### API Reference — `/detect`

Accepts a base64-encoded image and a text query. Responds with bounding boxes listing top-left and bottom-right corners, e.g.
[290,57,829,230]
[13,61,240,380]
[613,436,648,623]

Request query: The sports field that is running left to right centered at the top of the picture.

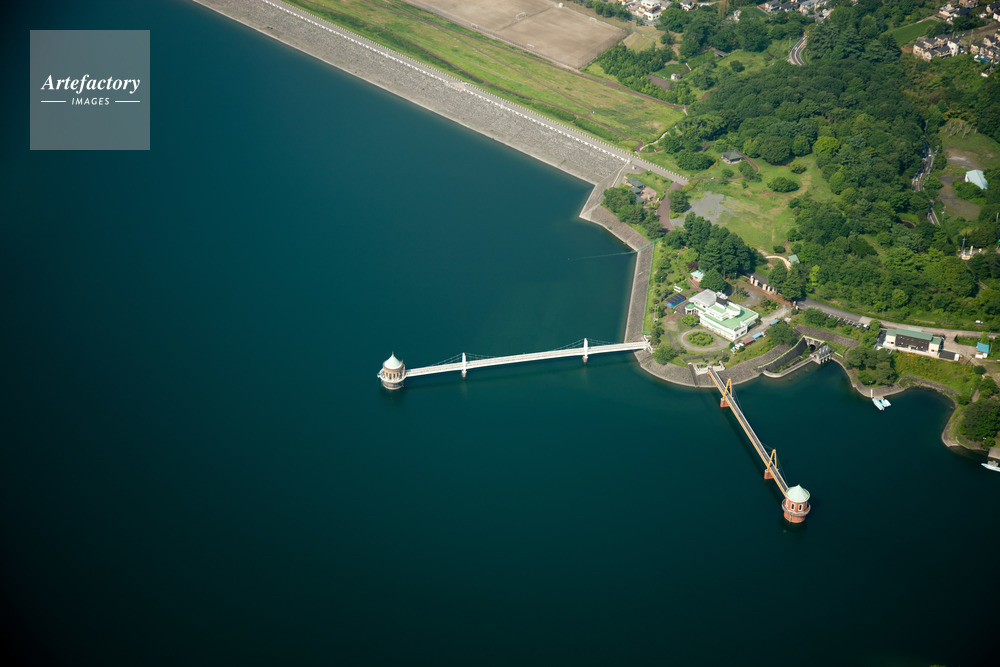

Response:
[403,0,626,71]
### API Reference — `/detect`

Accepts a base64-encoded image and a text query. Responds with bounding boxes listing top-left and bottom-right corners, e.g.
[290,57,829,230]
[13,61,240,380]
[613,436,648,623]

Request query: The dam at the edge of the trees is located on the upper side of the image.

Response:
[193,0,688,188]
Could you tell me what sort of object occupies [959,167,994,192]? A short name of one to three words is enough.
building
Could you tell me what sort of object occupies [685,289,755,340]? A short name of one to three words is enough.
building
